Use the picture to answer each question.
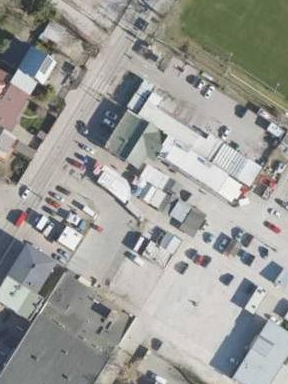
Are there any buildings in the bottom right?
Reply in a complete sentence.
Yes, a building is visible in the bottom right.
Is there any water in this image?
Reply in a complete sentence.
No, the picture contains no water.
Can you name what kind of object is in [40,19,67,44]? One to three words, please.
shed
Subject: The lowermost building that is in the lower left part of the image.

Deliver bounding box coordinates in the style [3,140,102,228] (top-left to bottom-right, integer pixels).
[0,272,136,384]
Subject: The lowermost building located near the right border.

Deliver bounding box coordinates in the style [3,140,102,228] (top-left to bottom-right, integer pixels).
[232,319,288,384]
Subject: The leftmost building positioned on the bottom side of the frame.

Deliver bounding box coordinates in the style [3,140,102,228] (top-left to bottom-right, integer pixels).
[0,226,55,315]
